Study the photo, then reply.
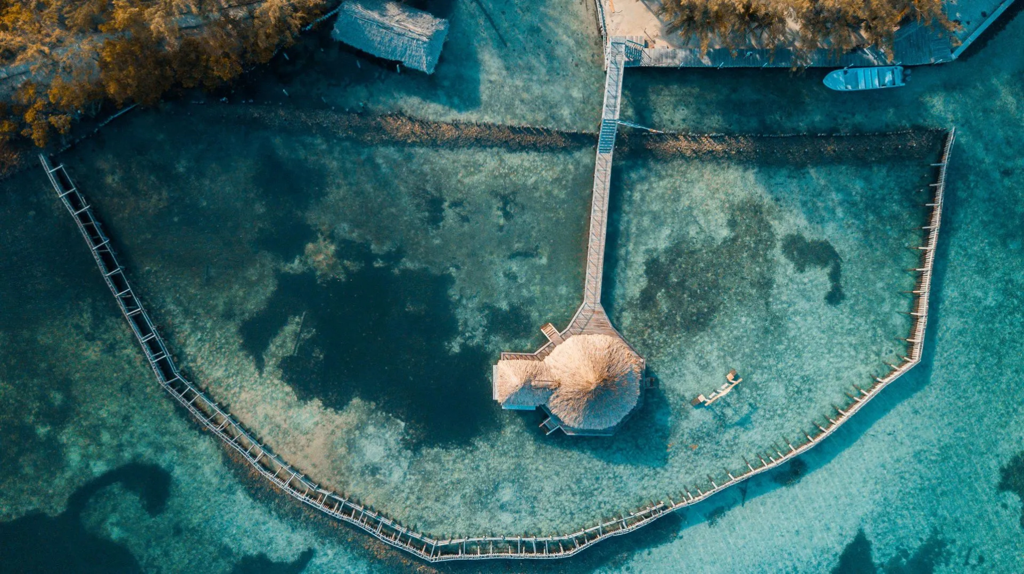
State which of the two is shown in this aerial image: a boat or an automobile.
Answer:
boat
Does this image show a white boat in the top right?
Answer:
No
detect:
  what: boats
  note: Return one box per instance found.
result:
[824,65,911,90]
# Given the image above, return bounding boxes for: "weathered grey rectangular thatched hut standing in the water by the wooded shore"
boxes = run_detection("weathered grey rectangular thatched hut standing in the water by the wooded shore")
[329,0,451,78]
